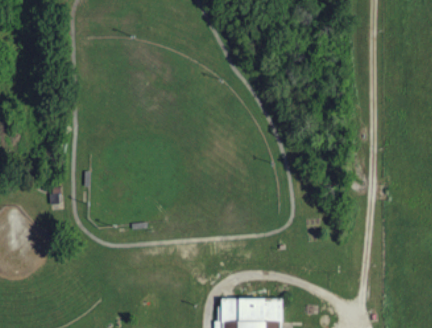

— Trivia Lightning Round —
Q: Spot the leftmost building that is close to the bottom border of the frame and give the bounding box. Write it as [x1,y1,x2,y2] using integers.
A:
[214,298,282,328]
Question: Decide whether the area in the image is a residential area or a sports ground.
sports ground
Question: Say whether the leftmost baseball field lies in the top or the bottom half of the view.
bottom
